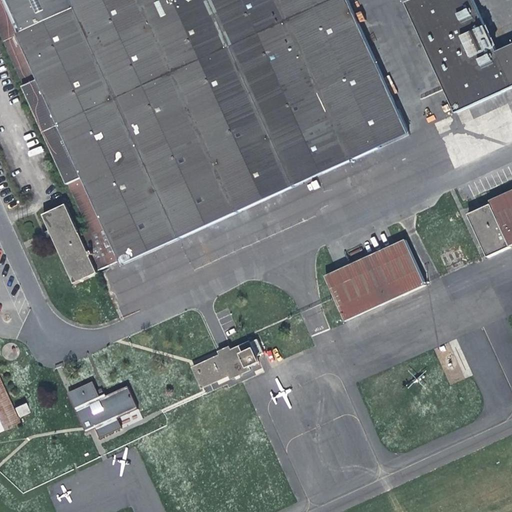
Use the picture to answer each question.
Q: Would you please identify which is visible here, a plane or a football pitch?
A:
plane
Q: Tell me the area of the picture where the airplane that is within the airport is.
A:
bottom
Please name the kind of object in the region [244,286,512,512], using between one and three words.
airport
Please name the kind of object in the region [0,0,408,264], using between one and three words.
hangar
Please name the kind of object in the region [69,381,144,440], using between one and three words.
building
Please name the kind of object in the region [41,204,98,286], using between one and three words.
building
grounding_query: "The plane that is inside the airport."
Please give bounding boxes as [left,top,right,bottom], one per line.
[269,378,291,409]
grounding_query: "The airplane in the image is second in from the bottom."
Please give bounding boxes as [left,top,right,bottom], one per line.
[112,446,130,476]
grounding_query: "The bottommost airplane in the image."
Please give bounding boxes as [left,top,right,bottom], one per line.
[58,484,73,504]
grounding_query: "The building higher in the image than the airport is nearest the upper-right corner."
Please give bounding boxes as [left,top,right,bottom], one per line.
[396,0,512,114]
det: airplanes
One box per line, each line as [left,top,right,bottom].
[58,484,73,504]
[269,378,291,409]
[112,446,130,476]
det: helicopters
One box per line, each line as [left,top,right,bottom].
[402,370,426,389]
